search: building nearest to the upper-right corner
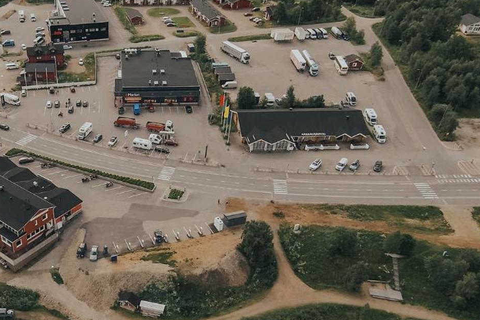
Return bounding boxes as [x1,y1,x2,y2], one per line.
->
[448,13,480,38]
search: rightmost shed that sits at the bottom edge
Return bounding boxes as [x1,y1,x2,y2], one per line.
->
[143,301,167,320]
